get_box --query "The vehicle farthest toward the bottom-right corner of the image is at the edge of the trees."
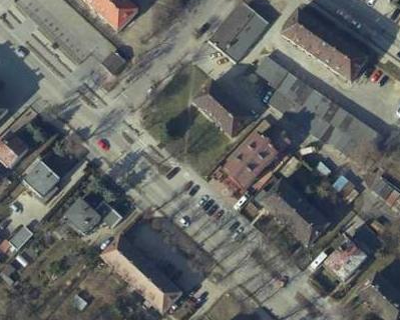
[309,254,326,269]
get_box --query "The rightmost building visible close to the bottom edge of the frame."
[358,280,400,320]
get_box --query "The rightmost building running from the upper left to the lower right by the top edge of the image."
[280,8,371,81]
